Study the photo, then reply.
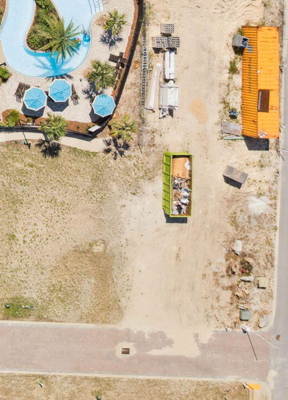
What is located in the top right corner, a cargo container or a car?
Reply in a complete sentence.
The feature located in the top right corner is a cargo container.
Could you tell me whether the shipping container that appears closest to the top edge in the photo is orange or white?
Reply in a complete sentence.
In this view, the shipping container that appears closest to the top edge is orange.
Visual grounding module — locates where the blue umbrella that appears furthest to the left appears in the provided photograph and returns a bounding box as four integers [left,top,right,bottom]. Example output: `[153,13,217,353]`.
[23,86,46,109]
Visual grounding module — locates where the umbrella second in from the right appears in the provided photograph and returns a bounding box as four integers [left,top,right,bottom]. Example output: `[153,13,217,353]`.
[47,78,70,101]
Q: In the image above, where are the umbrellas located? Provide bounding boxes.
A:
[90,93,115,118]
[47,78,70,101]
[23,86,46,109]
